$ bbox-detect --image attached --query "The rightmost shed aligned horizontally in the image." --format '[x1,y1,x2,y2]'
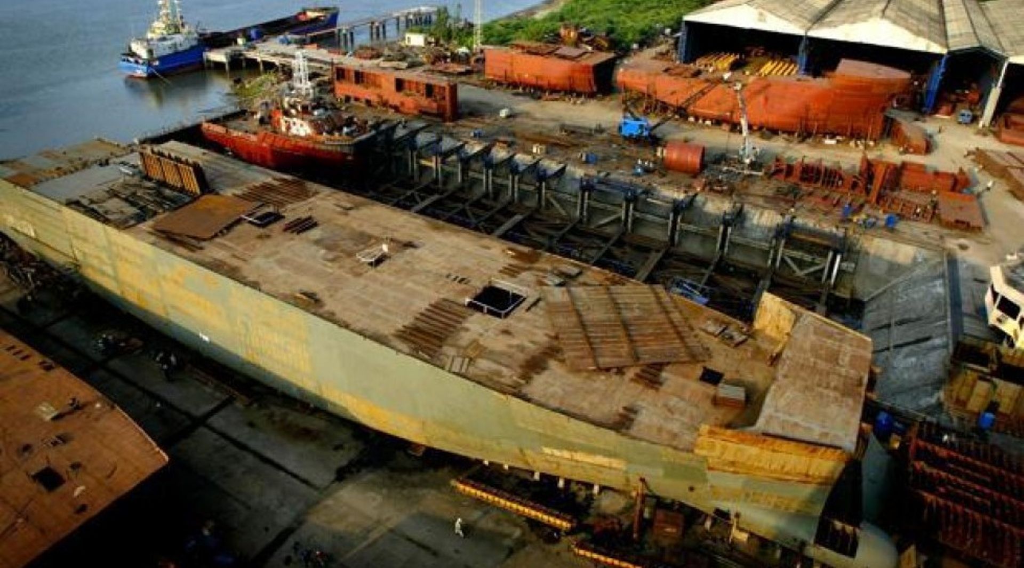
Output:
[676,0,950,111]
